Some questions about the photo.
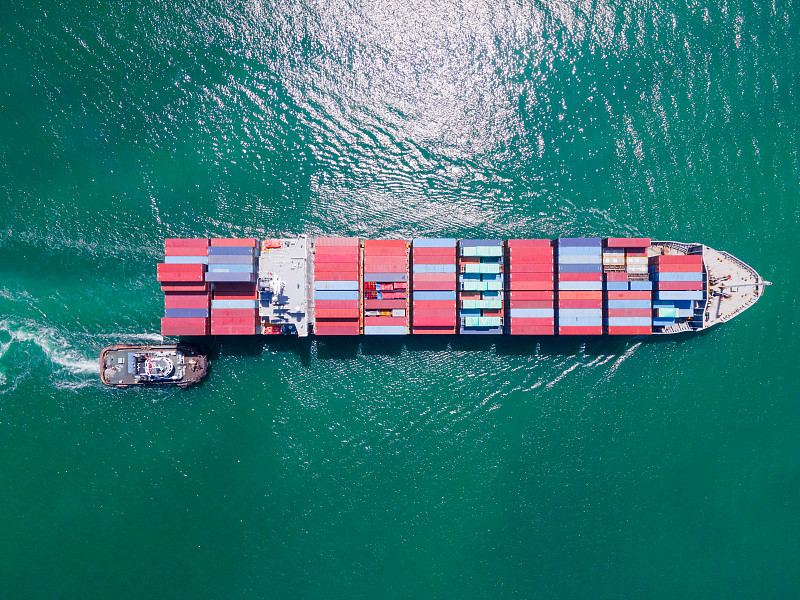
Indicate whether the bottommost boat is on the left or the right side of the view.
left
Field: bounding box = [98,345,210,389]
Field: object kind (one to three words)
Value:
boat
